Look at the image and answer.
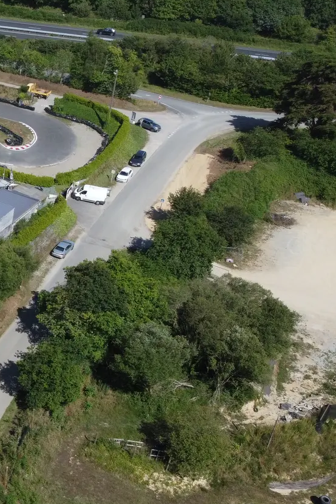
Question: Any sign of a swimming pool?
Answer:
No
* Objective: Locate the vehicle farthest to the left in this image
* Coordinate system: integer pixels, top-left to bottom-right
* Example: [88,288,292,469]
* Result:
[25,82,54,98]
